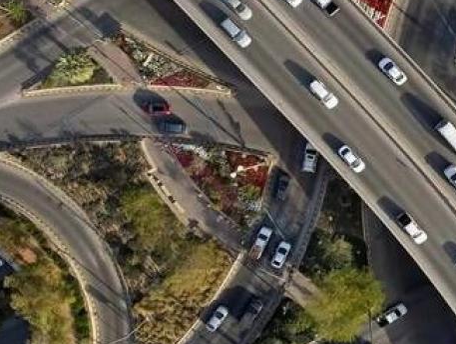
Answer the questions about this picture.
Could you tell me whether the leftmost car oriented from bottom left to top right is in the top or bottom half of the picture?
bottom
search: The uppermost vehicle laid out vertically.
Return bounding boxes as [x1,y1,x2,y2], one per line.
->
[302,143,317,172]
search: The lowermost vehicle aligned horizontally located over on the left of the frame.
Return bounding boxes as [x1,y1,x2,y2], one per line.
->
[157,120,186,133]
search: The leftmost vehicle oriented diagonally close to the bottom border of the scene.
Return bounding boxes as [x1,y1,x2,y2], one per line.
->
[206,304,228,332]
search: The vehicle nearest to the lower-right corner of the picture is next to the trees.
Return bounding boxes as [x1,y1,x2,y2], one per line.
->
[380,304,403,325]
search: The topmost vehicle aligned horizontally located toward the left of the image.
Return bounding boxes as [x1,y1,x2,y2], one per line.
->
[143,99,172,113]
